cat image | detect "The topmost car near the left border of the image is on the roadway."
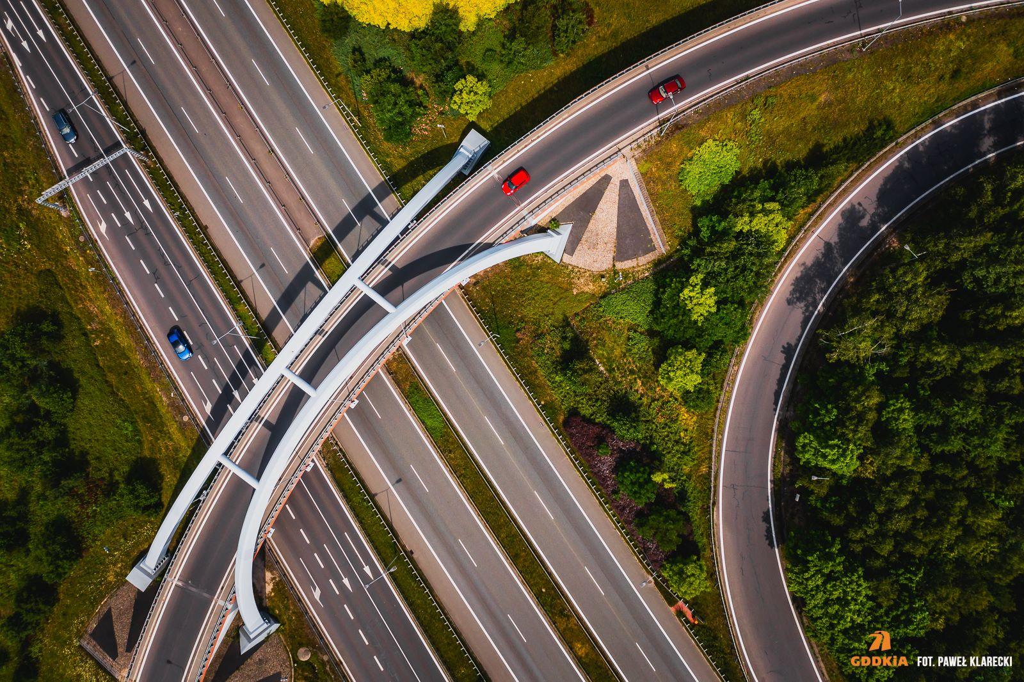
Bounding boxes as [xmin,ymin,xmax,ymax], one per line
[49,109,77,142]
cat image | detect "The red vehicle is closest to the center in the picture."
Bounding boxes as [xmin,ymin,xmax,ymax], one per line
[501,169,531,194]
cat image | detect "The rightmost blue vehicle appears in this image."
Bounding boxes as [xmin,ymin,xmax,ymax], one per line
[169,328,192,359]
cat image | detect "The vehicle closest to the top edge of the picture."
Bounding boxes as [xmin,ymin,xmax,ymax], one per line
[648,77,686,103]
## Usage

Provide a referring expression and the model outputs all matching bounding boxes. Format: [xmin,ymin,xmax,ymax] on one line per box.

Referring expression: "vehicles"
[648,77,686,103]
[49,109,77,142]
[501,169,531,194]
[169,328,192,359]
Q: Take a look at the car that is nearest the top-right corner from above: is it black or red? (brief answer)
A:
red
